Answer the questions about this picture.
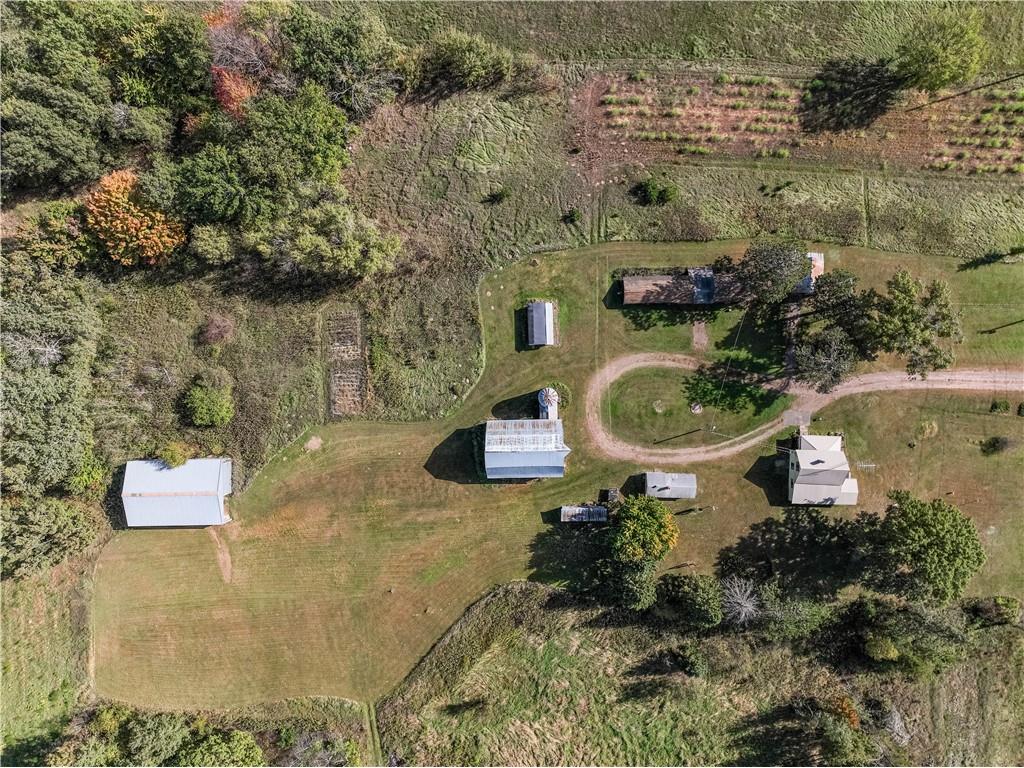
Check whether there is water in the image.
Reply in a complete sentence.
No, water can't be seen anywhere here.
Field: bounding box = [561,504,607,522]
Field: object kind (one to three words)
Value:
shed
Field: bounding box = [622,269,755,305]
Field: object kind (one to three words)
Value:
shed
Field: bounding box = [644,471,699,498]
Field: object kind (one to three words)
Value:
building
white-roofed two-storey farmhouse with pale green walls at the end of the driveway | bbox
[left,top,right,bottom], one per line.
[779,435,859,505]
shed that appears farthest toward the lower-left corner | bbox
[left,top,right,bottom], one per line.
[122,459,236,526]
